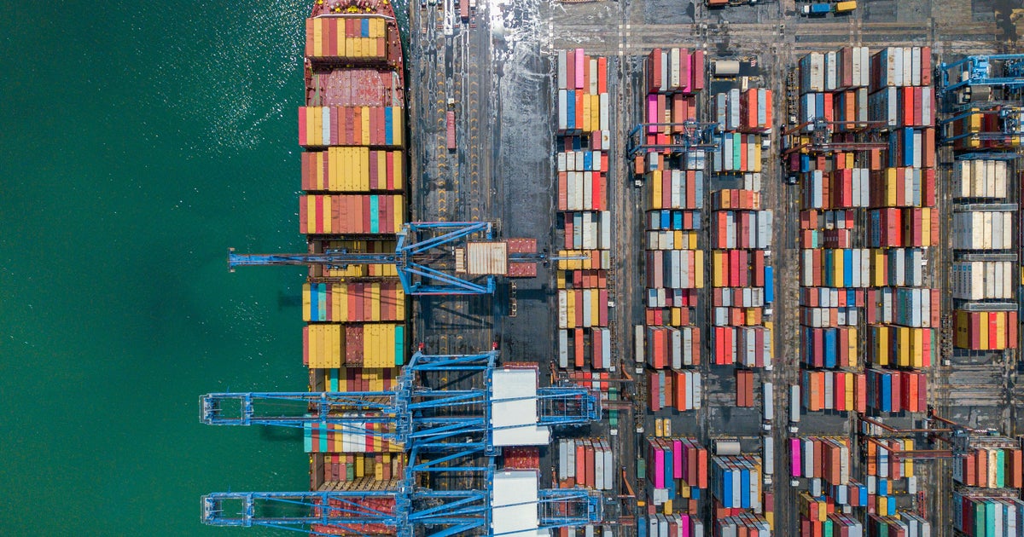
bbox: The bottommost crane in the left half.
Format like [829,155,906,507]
[202,422,603,537]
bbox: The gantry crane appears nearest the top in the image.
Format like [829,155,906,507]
[941,54,1024,101]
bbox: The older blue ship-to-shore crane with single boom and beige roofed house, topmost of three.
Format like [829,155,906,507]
[228,212,589,299]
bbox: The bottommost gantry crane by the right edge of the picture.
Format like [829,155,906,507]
[859,408,973,457]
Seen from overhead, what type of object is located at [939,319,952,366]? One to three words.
vehicle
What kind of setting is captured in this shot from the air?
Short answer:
port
